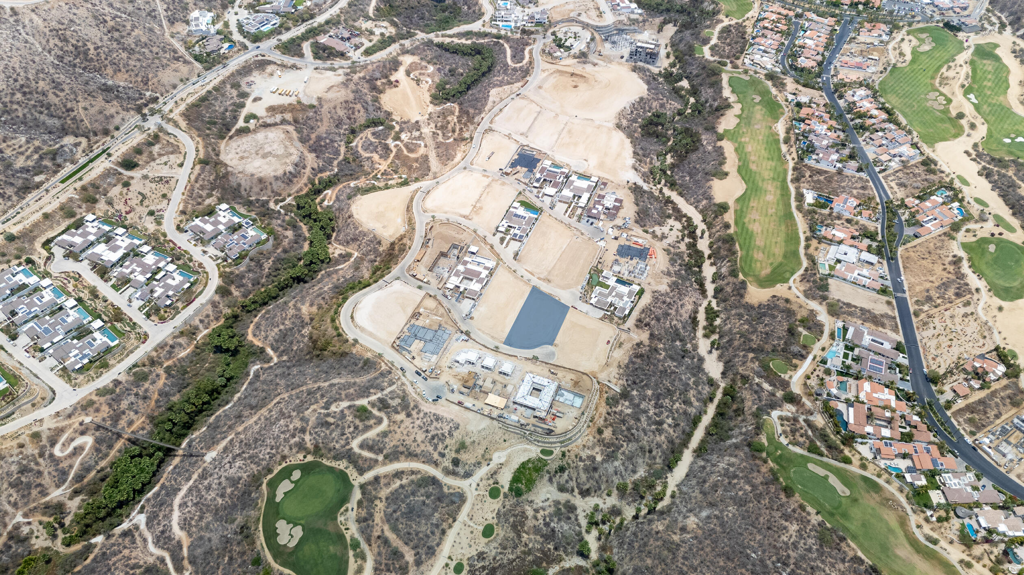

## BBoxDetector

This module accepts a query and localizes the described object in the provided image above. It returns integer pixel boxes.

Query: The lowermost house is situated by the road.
[948,505,1024,541]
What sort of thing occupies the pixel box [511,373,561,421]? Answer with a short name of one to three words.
building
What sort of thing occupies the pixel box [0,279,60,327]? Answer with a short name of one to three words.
house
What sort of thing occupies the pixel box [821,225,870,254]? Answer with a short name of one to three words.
house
